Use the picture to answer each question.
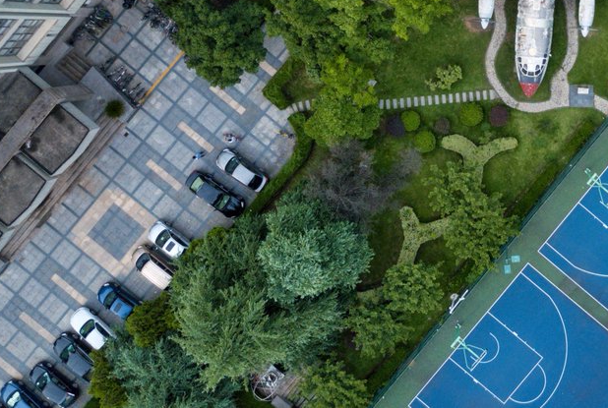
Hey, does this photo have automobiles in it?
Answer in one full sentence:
Yes, I can see an automobile in this picture.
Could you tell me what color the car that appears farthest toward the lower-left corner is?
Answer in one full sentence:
The car that appears farthest toward the lower-left corner is blue.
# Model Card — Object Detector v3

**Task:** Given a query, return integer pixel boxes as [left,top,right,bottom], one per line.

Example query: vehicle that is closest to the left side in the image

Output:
[0,379,51,408]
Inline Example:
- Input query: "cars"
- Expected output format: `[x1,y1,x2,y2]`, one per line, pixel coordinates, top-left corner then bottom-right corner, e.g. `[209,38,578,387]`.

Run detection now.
[129,244,182,299]
[68,305,123,358]
[30,361,83,408]
[0,379,51,408]
[95,278,149,330]
[51,332,104,385]
[144,218,197,269]
[187,168,245,219]
[213,145,269,197]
